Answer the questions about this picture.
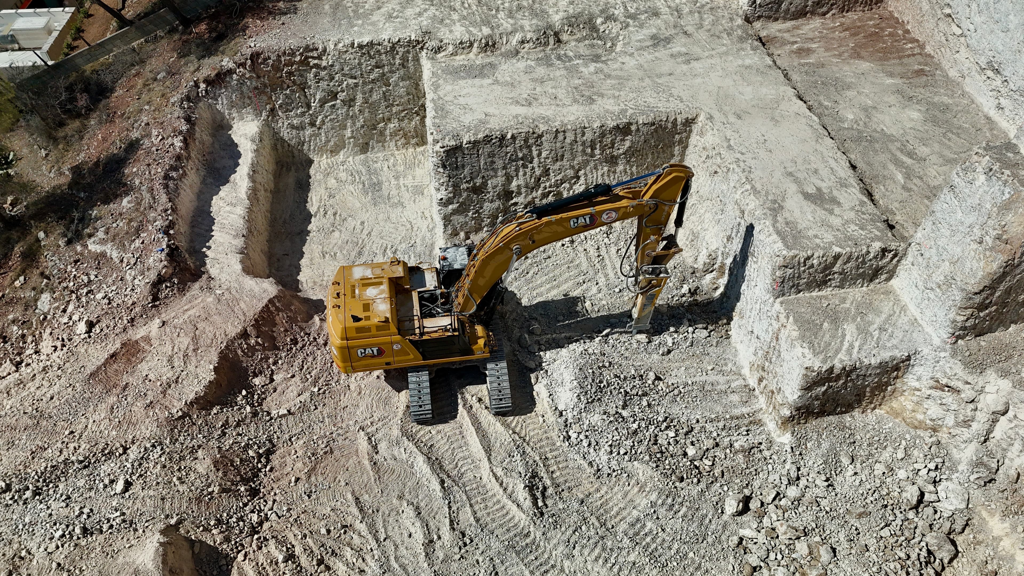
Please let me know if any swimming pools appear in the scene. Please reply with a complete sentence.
No, the frame has no swimming pool in it.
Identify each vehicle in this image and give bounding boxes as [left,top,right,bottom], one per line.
[329,160,692,427]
